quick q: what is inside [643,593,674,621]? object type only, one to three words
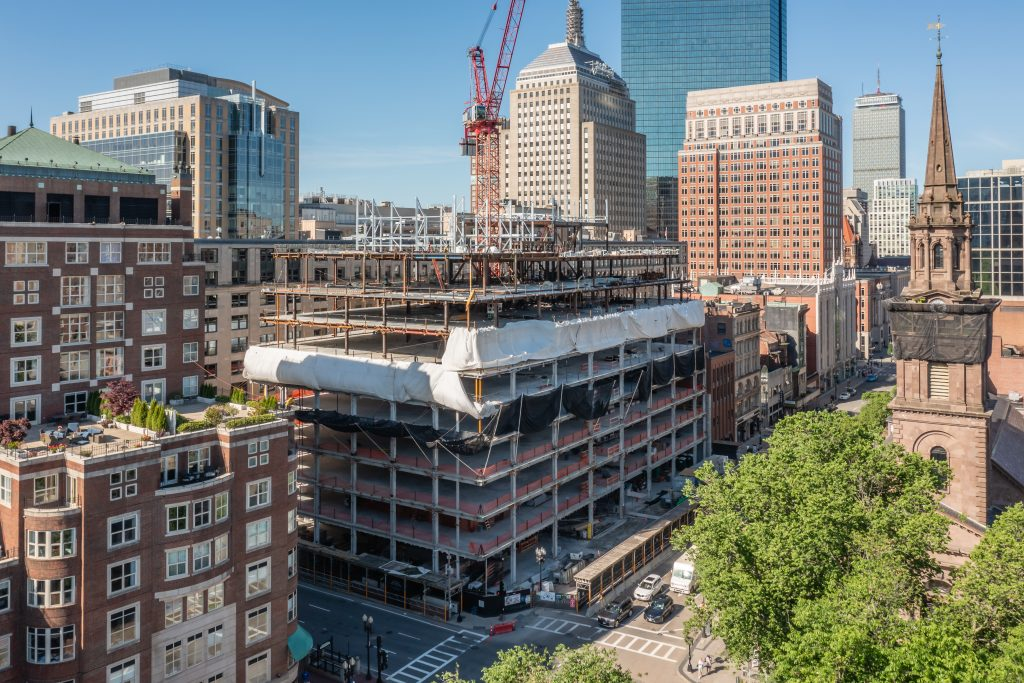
car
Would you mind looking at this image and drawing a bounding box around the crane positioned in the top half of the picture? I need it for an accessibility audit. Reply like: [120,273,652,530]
[452,0,524,381]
